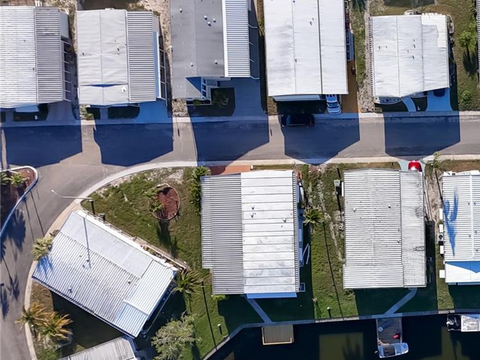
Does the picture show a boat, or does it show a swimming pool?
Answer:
boat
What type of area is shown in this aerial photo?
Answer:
residential area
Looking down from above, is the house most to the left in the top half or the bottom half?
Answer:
top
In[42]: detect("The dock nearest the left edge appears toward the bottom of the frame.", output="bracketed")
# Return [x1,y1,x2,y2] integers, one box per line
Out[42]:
[261,323,298,346]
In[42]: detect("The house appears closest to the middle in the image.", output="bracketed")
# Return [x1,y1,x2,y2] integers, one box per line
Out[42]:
[200,170,309,298]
